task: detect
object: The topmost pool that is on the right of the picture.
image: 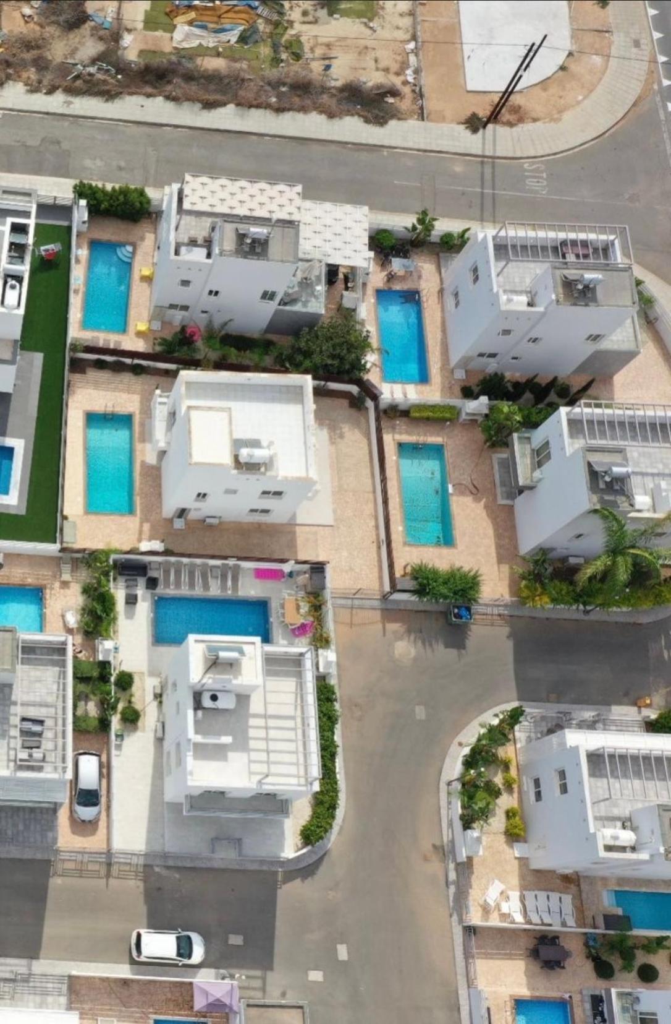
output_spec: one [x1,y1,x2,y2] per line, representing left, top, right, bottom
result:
[373,285,434,385]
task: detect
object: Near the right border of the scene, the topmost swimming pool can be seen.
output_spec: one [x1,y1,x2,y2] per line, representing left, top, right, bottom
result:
[608,884,671,935]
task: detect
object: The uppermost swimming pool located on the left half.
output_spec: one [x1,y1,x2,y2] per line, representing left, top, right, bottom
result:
[79,236,137,336]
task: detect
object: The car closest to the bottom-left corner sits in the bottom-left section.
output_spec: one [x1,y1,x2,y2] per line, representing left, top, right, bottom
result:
[131,928,205,967]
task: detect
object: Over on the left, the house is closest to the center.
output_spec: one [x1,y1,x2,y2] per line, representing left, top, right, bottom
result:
[149,371,317,524]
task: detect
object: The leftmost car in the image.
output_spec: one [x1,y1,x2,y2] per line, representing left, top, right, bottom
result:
[70,750,105,823]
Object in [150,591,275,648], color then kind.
blue swimming pool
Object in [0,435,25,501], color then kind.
white swimming pool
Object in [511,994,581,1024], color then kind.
blue swimming pool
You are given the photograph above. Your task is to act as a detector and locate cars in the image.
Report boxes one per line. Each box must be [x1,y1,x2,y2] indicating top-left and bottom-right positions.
[131,928,205,967]
[70,750,105,823]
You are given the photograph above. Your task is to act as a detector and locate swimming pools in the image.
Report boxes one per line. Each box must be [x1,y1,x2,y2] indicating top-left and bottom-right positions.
[373,285,434,385]
[150,591,275,648]
[0,435,25,501]
[150,1014,215,1024]
[511,994,581,1024]
[608,884,671,935]
[394,433,459,549]
[82,403,138,518]
[0,582,47,634]
[79,236,137,336]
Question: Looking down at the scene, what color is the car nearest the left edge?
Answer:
white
